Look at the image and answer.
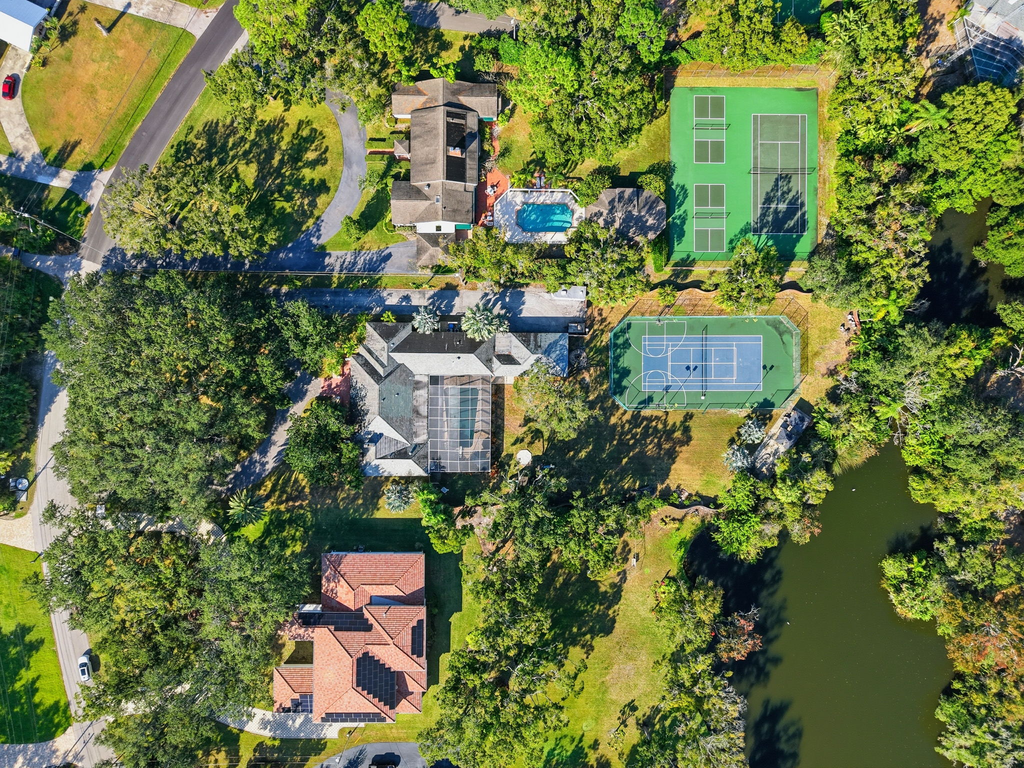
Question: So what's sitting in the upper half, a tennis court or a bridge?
tennis court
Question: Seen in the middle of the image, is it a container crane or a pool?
pool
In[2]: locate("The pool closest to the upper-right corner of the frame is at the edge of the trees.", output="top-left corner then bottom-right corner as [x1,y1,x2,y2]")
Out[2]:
[955,16,1024,89]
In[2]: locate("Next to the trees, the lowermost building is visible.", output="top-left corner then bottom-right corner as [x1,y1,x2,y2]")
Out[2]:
[273,550,428,723]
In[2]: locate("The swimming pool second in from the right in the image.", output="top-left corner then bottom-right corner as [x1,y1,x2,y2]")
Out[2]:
[494,191,585,244]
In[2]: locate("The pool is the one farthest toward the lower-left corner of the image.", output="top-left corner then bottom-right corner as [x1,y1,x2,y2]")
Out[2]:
[429,375,491,473]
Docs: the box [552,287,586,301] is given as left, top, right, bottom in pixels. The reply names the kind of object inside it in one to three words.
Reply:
shed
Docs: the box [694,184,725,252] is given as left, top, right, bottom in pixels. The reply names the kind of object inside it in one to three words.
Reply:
sports court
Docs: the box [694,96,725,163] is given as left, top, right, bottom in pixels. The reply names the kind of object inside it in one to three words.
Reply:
sports court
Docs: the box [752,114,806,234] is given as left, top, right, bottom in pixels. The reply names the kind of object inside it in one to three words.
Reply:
tennis court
